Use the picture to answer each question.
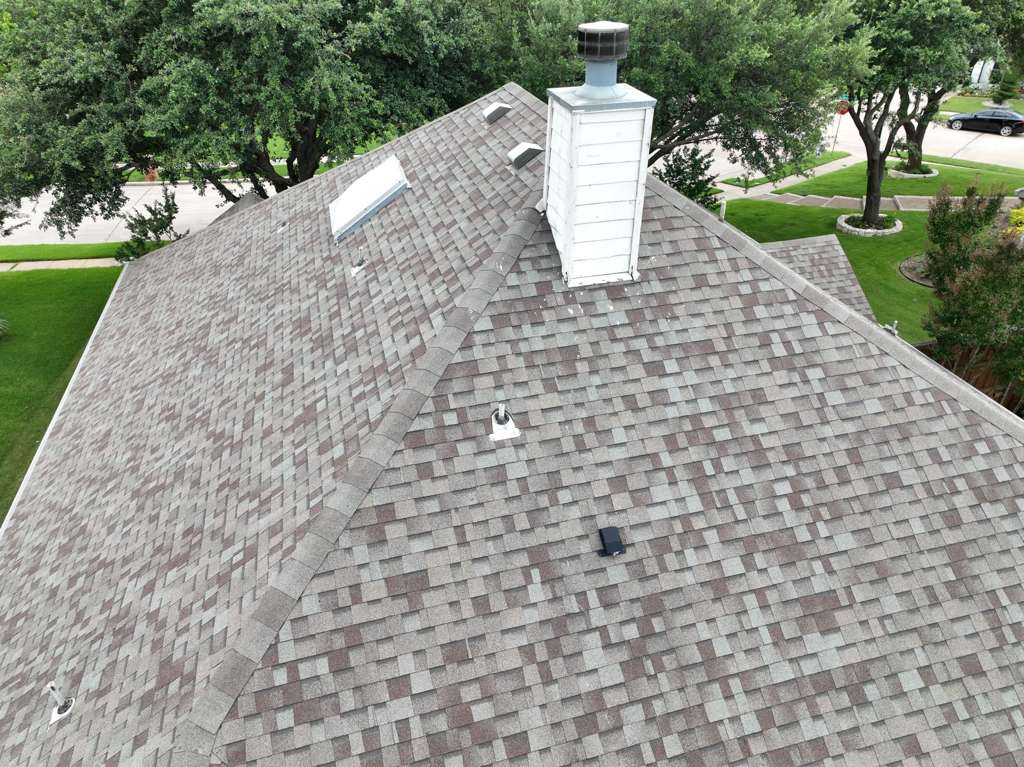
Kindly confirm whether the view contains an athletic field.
No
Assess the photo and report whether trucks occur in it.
No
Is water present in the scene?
No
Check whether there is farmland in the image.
No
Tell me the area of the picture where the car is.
top right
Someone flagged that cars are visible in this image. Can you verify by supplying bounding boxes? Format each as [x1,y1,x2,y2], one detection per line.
[950,109,1024,137]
